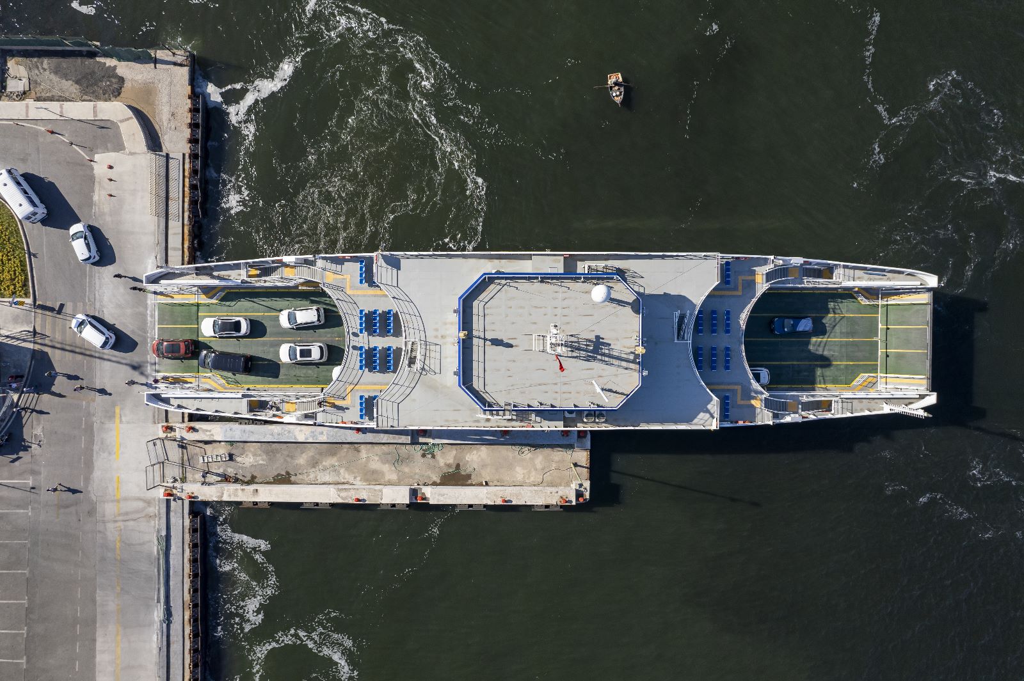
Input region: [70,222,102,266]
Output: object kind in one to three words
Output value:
car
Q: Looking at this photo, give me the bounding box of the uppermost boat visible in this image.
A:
[592,70,632,106]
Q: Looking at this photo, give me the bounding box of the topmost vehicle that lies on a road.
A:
[0,164,48,224]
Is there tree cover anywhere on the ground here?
No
